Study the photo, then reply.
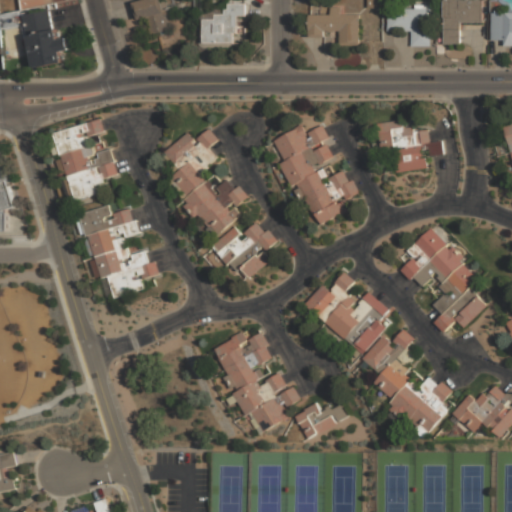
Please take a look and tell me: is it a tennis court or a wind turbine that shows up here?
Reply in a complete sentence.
The image shows a tennis court.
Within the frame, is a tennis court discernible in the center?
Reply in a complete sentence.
No, the scene shows no tennis court in the center.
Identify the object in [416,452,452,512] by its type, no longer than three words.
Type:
tennis court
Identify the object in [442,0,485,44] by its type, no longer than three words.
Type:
house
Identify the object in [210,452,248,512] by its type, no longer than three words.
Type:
tennis court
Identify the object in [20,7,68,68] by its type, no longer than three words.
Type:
house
